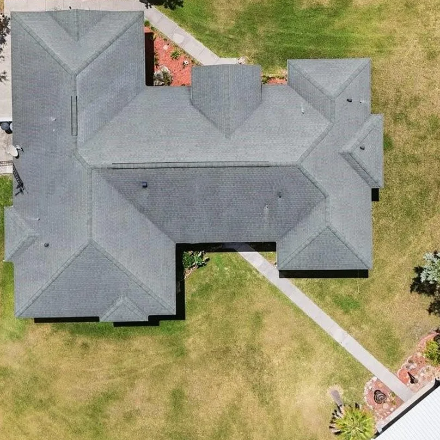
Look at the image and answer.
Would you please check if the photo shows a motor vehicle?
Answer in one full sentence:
No, there isn't any motor vehicle down there.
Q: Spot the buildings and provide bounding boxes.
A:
[371,378,440,440]
[4,6,385,323]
